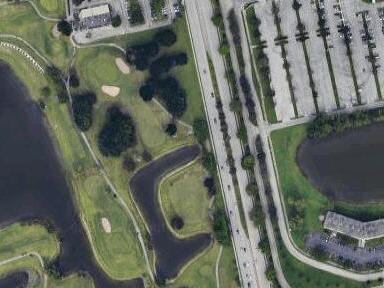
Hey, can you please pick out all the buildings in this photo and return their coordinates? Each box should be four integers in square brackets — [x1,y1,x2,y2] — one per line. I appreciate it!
[79,4,111,29]
[323,211,384,245]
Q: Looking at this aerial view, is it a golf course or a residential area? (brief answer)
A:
golf course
